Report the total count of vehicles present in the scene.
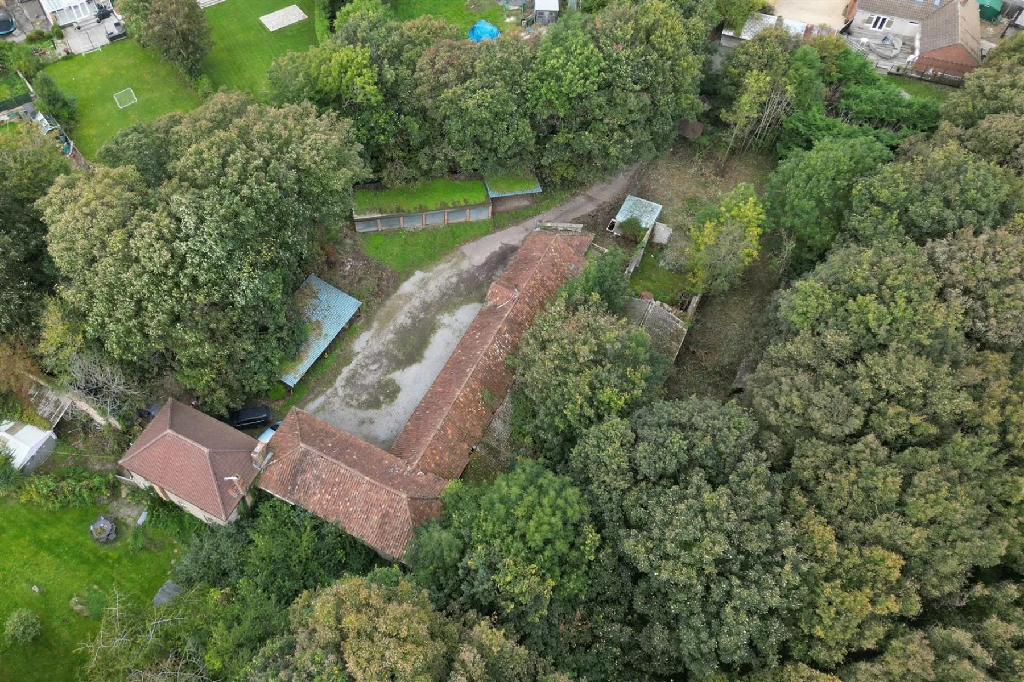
two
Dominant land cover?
trees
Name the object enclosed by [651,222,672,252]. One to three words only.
shed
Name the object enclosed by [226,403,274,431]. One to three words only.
car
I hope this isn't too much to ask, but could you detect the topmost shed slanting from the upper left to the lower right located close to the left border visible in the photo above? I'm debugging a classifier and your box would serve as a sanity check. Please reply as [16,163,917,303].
[22,0,51,31]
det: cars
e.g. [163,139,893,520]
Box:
[226,403,274,431]
[254,419,286,447]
